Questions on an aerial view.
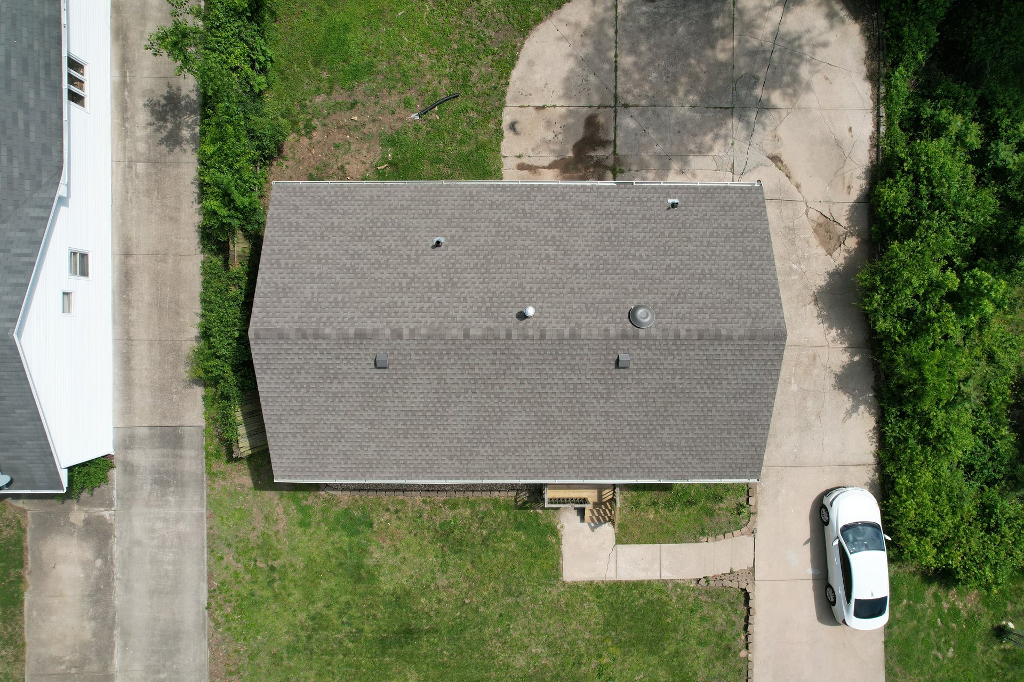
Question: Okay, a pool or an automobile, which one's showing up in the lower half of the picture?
automobile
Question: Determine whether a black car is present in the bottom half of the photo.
No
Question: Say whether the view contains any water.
No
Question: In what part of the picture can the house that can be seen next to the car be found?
center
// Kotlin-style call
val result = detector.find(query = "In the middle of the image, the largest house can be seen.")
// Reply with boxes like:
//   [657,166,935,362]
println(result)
[247,178,788,484]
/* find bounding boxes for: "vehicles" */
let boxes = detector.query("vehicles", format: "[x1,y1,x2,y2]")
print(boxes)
[823,487,897,634]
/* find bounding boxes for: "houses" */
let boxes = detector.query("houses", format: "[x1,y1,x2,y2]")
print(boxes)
[0,0,114,497]
[247,178,788,484]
